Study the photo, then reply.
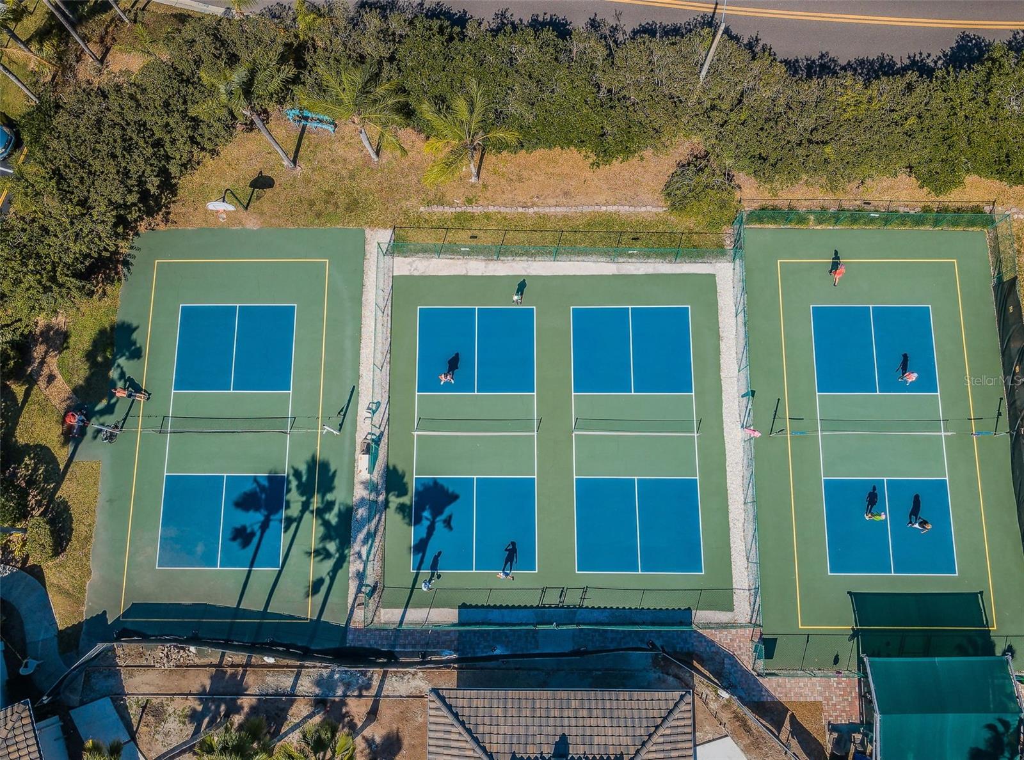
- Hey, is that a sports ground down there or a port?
sports ground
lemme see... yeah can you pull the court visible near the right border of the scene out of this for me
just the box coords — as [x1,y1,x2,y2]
[744,228,1024,670]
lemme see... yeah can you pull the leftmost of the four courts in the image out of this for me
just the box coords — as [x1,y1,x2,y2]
[67,228,364,646]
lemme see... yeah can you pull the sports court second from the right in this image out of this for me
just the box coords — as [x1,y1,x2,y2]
[553,274,734,611]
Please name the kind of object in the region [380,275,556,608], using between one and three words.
sports court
